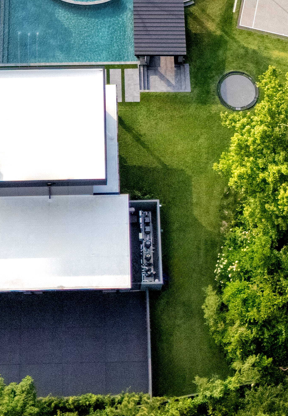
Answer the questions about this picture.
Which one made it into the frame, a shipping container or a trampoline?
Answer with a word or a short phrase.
trampoline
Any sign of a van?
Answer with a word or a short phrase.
No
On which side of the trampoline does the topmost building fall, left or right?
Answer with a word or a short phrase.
left of it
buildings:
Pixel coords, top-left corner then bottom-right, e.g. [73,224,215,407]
[0,67,131,295]
[133,0,194,93]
